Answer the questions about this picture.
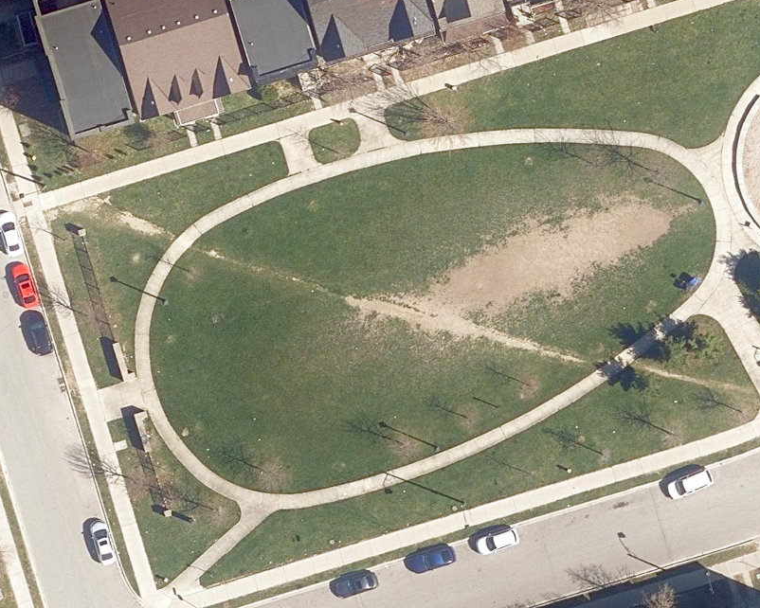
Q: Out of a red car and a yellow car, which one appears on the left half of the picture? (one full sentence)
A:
The one visible on the left half of the picture is a red car.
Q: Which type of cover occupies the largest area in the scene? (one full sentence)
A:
The largest share of the image is taken up by grass.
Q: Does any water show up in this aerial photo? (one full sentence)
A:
No, the scene doesn't show any water.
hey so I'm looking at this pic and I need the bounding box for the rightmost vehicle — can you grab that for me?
[666,469,716,499]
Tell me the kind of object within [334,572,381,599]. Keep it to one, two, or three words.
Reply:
car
